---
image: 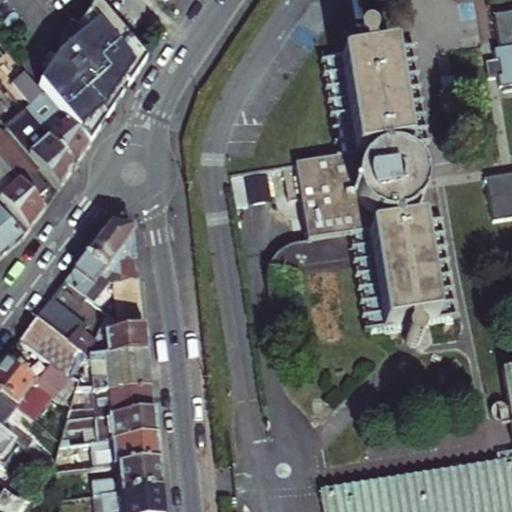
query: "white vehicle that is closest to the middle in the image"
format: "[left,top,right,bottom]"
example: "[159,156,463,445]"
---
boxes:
[186,334,198,360]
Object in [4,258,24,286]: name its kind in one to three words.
vehicle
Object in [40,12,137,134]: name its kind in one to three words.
building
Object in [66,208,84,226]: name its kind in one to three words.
car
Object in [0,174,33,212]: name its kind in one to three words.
house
